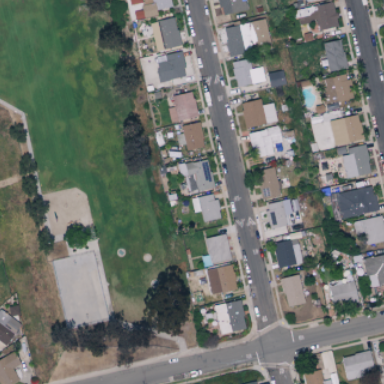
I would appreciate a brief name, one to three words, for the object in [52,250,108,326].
sports court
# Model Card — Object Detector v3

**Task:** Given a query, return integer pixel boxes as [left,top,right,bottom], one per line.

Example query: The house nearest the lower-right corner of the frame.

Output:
[344,352,376,382]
